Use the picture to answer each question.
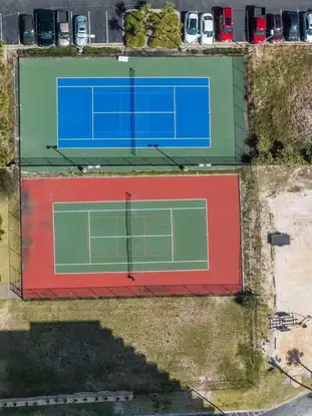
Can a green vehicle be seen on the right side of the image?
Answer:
No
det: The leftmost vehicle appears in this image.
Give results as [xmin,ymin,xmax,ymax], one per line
[22,13,37,46]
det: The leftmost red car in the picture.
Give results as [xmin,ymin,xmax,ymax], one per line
[217,7,235,43]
